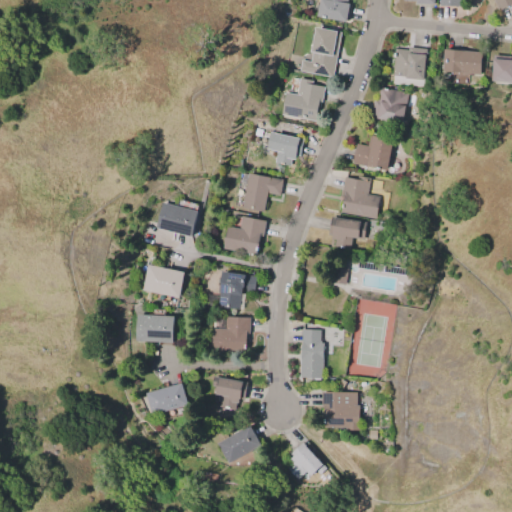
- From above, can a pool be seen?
Yes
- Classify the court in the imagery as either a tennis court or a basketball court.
tennis court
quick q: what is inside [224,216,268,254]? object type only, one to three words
house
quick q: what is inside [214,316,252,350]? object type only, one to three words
house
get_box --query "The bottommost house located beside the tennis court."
[324,392,361,432]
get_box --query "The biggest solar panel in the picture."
[160,220,191,234]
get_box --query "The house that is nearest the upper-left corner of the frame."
[158,202,198,236]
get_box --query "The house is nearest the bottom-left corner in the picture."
[147,384,186,411]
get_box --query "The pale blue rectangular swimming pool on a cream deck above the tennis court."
[352,263,411,297]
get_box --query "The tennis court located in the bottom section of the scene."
[350,298,398,378]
